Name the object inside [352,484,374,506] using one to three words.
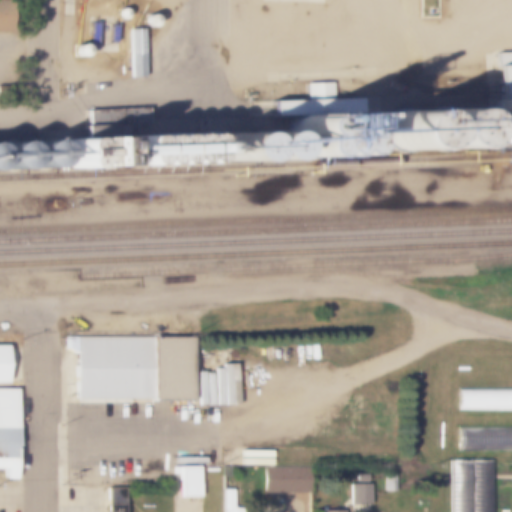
house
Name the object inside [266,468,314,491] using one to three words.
house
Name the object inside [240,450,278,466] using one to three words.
shed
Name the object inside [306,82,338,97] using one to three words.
building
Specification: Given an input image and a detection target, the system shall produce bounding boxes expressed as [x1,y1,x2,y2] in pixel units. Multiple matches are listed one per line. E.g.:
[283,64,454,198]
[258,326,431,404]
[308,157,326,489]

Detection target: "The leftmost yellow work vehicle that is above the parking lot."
[74,316,90,330]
